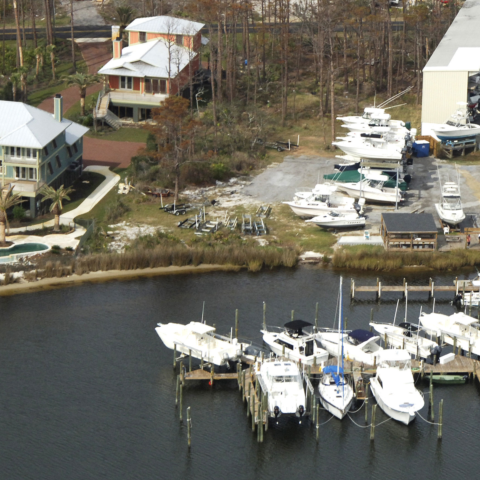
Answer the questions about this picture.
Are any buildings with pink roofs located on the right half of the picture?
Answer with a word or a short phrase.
No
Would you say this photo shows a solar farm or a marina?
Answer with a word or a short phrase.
marina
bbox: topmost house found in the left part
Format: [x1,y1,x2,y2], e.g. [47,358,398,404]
[83,13,214,130]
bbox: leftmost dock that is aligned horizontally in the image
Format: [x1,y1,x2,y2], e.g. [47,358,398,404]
[183,365,241,388]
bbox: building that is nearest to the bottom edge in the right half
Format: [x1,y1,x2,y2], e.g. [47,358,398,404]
[384,211,438,253]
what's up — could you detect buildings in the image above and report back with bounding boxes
[0,88,97,223]
[83,13,214,130]
[421,0,480,135]
[384,211,438,253]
